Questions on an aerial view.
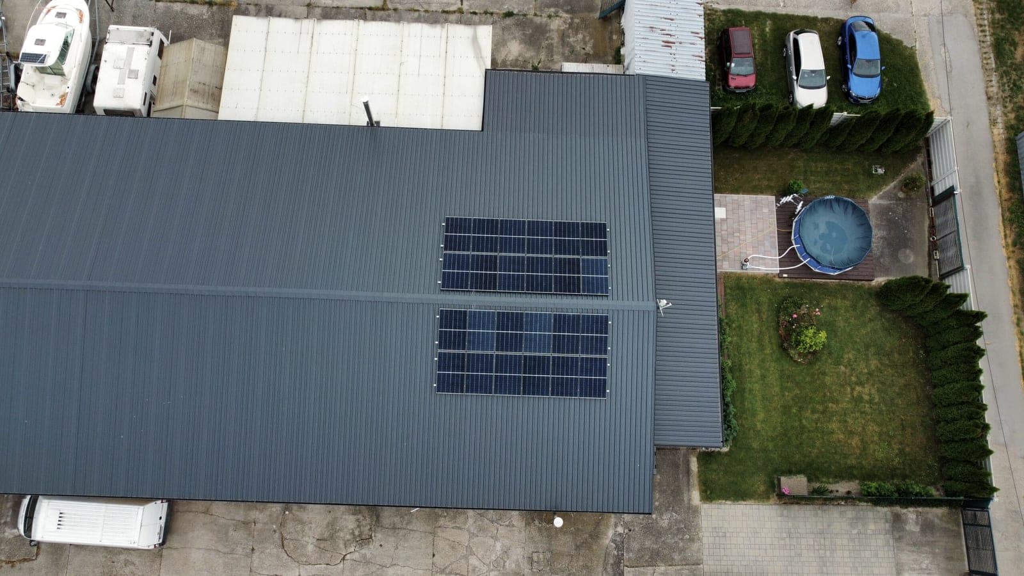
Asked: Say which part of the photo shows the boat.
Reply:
top left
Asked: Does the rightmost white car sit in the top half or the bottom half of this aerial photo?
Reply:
top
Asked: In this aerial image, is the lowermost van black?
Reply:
No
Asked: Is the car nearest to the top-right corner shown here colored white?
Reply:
No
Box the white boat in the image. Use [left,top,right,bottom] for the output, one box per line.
[19,0,90,112]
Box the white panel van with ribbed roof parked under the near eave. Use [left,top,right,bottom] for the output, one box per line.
[21,498,173,550]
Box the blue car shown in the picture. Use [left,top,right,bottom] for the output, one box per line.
[837,17,887,102]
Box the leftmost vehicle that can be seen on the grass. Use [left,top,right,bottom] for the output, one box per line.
[715,24,757,94]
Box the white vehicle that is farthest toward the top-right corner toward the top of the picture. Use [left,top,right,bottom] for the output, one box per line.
[782,33,832,111]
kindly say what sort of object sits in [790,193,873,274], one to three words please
swimming pool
